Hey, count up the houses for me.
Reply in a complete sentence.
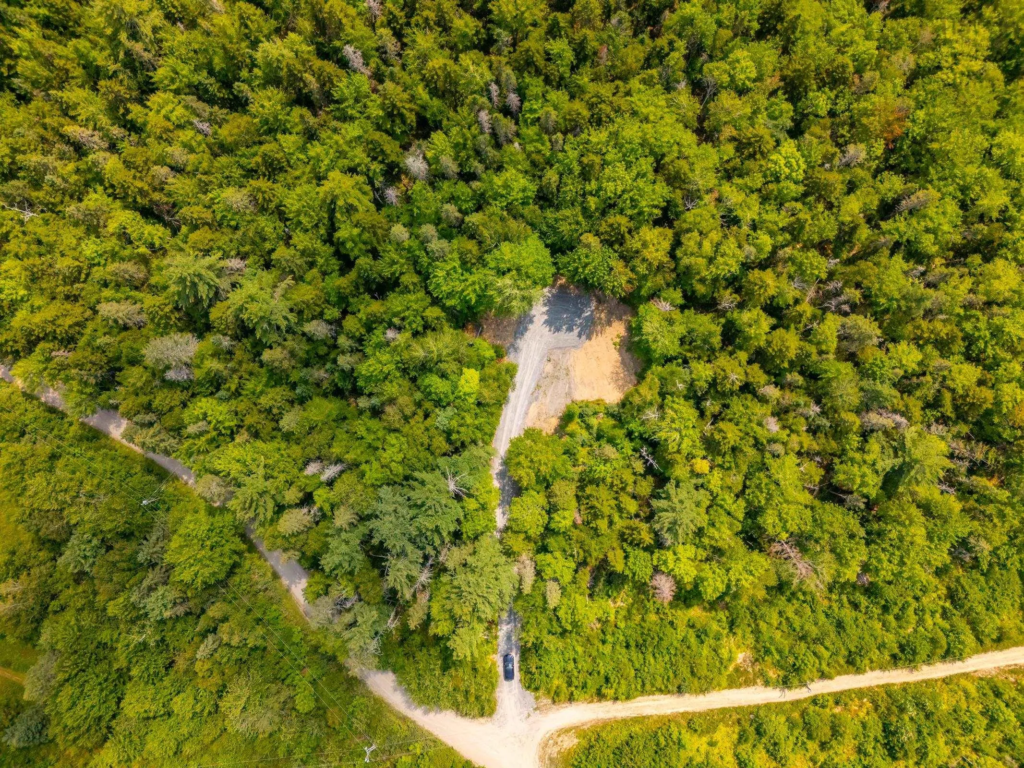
There are no houses in the image.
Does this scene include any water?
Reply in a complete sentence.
No, the scene doesn't show any water.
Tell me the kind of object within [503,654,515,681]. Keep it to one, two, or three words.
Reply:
vehicle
